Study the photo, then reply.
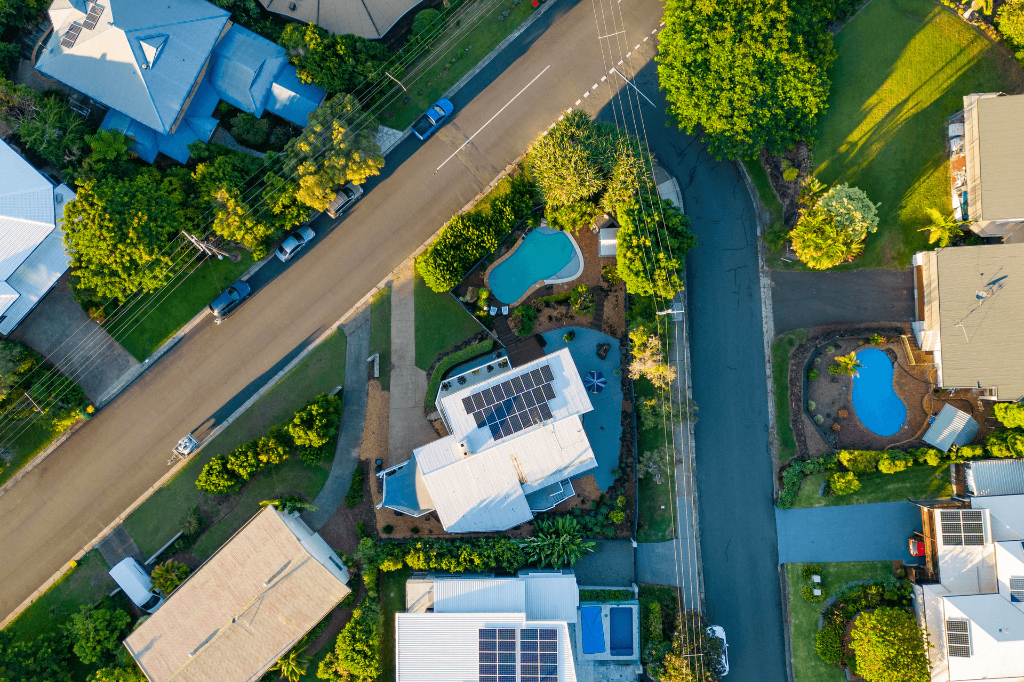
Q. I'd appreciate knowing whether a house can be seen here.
Yes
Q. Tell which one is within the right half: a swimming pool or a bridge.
swimming pool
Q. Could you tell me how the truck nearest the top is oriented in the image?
diagonally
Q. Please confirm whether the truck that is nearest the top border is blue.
Yes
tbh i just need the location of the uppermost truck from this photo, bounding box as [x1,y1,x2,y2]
[405,94,459,146]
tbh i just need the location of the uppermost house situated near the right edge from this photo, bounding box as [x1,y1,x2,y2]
[943,93,1024,244]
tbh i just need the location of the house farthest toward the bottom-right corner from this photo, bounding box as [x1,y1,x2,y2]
[910,457,1024,682]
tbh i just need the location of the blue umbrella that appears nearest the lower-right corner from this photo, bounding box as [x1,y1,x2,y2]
[583,370,607,395]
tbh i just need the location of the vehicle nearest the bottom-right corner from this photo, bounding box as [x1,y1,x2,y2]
[902,535,924,557]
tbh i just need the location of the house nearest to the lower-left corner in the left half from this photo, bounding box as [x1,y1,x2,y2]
[122,503,353,682]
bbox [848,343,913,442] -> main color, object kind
blue swimming pool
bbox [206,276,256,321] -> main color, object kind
blue car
